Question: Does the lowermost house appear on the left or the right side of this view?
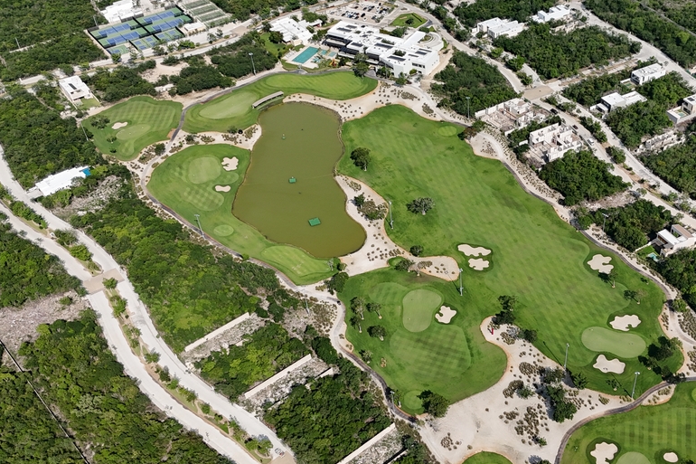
right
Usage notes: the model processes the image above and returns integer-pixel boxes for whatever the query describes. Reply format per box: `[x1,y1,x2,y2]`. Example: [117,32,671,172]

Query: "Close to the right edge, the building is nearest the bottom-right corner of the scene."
[635,222,696,257]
